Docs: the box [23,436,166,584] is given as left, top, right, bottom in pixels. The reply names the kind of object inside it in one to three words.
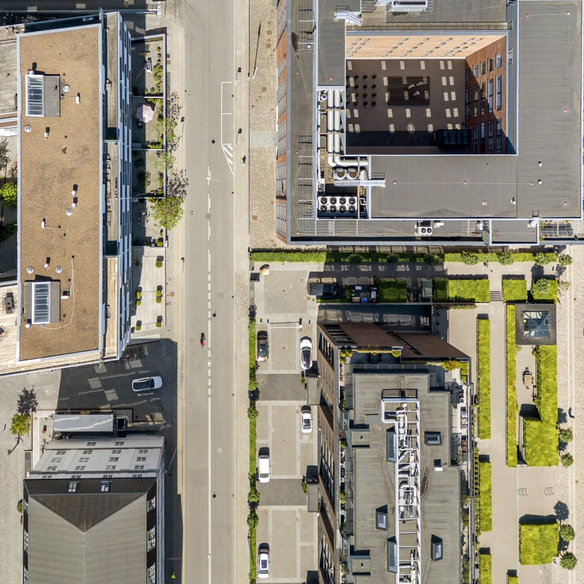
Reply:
warehouse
